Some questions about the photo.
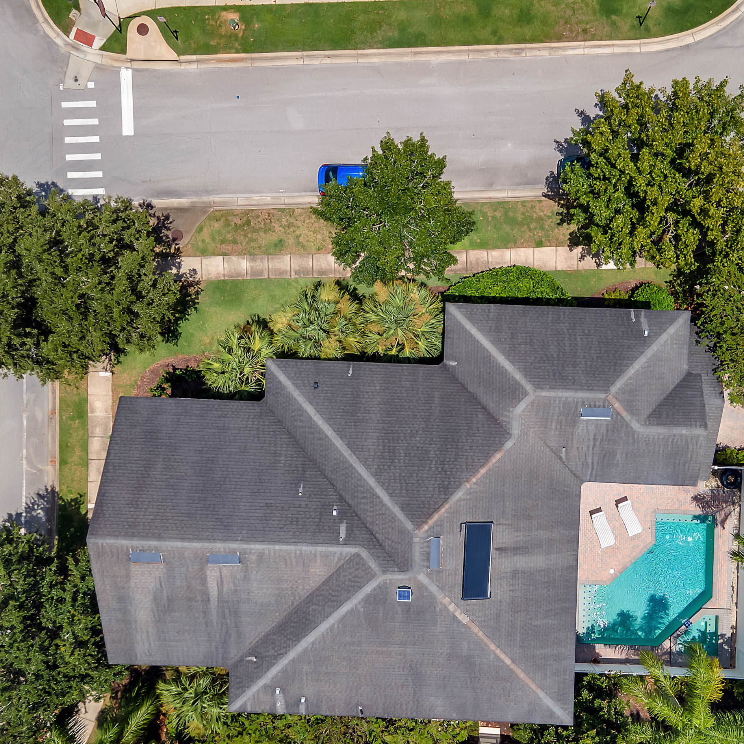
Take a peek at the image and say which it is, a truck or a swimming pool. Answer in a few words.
swimming pool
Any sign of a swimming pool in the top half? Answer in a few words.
No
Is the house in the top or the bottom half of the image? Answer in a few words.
bottom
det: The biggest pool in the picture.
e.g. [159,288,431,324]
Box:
[576,509,720,652]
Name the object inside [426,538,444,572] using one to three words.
solar panel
